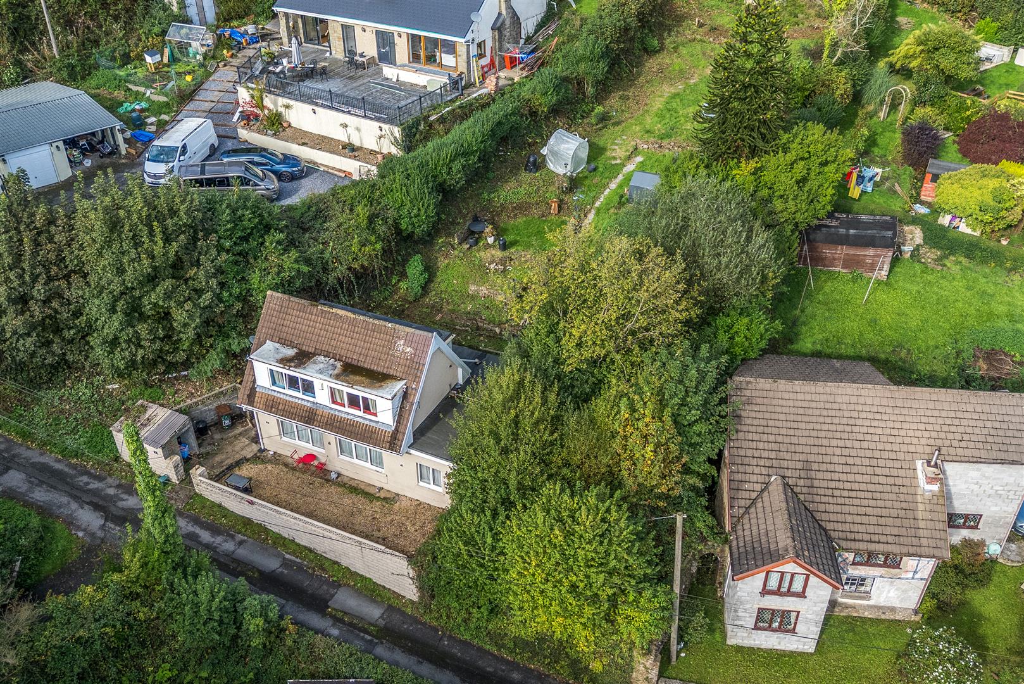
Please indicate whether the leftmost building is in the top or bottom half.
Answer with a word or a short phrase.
top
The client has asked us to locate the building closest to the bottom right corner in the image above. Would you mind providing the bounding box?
[710,354,1024,652]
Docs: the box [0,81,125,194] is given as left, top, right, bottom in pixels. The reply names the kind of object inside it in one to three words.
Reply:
building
